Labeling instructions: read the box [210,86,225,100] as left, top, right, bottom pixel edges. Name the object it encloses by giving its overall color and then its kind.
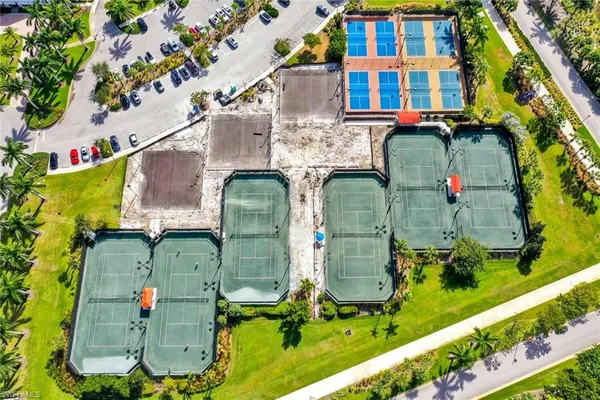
gray vehicle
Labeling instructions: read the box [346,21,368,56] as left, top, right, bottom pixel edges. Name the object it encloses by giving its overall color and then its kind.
blue sports court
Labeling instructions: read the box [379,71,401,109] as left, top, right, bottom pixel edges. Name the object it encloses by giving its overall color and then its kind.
blue sports court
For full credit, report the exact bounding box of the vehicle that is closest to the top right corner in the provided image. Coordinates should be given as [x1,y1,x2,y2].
[315,2,329,15]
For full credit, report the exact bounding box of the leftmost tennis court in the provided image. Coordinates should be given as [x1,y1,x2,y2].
[72,233,155,374]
